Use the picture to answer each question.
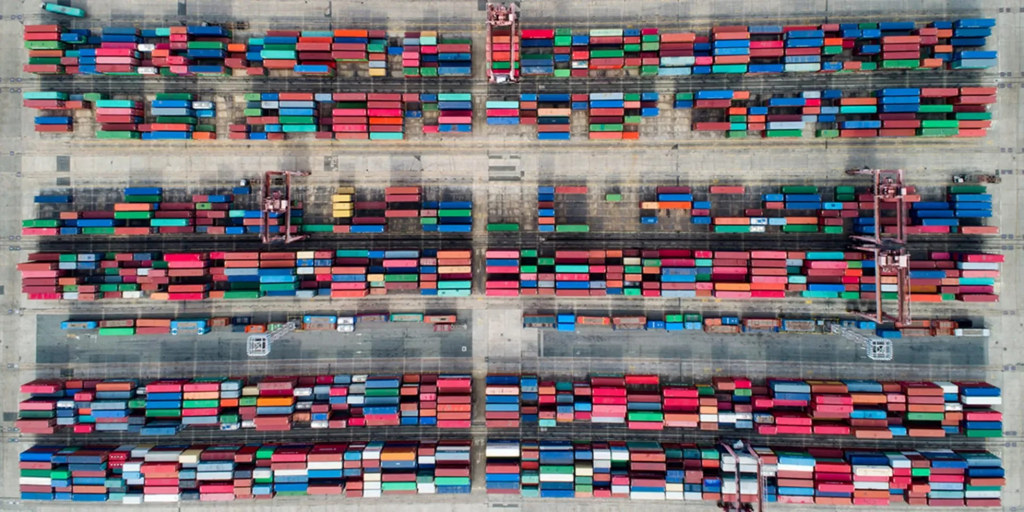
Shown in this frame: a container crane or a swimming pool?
container crane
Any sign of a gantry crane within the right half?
Yes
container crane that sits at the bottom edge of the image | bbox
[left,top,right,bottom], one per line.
[715,436,765,512]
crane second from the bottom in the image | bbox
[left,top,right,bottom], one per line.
[843,242,909,324]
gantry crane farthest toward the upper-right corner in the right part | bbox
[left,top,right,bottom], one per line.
[843,168,906,244]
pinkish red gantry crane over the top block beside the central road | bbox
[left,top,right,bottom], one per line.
[486,1,520,88]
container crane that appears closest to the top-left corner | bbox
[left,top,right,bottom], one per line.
[263,171,314,243]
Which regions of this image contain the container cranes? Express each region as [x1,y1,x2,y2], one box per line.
[843,242,909,324]
[715,436,765,512]
[843,168,906,244]
[263,171,314,243]
[486,1,520,88]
